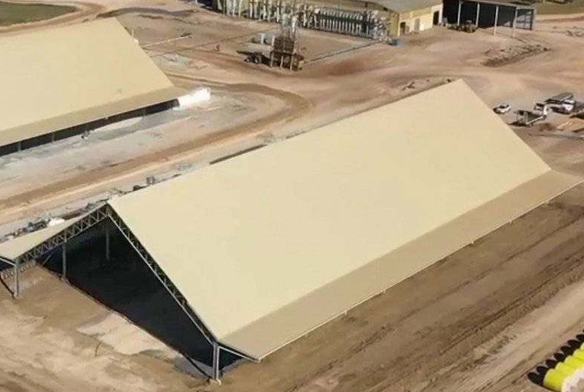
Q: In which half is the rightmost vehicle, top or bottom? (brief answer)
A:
top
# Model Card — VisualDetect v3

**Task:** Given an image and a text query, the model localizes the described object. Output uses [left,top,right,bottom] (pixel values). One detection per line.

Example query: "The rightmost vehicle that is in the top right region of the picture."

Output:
[539,91,584,111]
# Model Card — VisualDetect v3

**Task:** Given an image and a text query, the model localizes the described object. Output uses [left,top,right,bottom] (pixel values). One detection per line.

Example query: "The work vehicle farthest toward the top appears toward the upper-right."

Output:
[452,20,469,32]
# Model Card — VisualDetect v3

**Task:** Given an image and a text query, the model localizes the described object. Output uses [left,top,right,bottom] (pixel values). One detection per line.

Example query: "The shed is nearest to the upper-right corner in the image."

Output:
[438,0,538,37]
